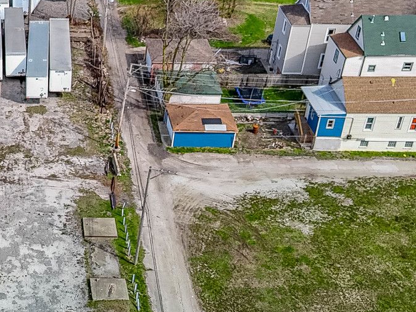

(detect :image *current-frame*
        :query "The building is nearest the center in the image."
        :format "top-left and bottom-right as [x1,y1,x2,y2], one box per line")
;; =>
[165,104,240,148]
